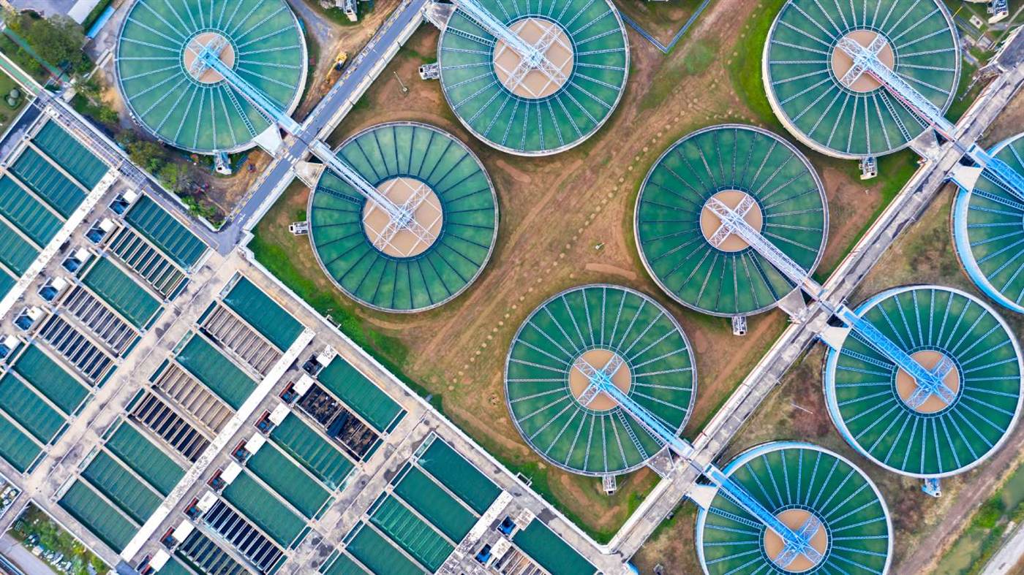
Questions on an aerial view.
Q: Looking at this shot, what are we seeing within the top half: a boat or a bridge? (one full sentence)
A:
The one visible within the top half is a bridge.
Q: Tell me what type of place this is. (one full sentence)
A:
It's an industrial area.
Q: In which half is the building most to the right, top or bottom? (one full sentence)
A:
The top half of the photo is where the building most to the right is.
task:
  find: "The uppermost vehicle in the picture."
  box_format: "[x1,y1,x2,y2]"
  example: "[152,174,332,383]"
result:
[325,48,351,76]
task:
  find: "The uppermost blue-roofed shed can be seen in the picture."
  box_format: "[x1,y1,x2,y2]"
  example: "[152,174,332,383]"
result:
[87,6,117,39]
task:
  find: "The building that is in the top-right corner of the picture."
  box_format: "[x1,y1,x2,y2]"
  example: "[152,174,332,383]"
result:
[971,9,1024,95]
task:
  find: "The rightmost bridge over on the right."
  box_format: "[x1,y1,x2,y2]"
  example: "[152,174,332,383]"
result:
[962,144,1024,205]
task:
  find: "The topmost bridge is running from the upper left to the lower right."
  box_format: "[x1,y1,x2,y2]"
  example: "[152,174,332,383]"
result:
[450,0,549,72]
